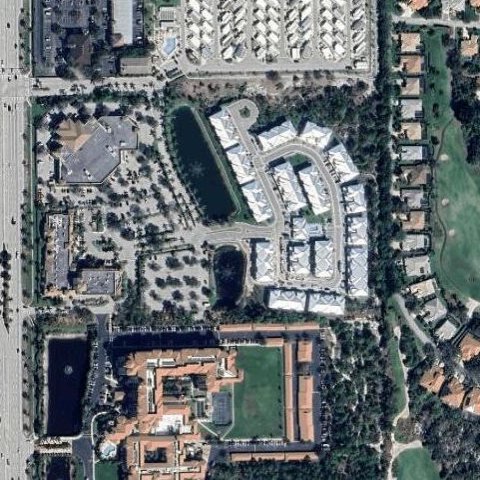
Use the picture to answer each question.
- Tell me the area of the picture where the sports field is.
bottom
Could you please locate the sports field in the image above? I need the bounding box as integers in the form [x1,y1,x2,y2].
[224,339,289,444]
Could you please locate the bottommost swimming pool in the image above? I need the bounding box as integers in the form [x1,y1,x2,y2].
[100,441,116,457]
